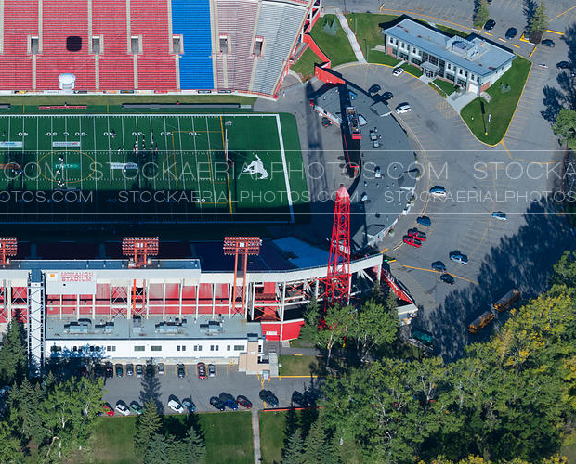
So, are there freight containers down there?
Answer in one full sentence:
No, no freight container is visible in the scene.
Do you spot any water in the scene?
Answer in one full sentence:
No, the picture contains no water.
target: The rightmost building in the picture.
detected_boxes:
[379,3,522,96]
